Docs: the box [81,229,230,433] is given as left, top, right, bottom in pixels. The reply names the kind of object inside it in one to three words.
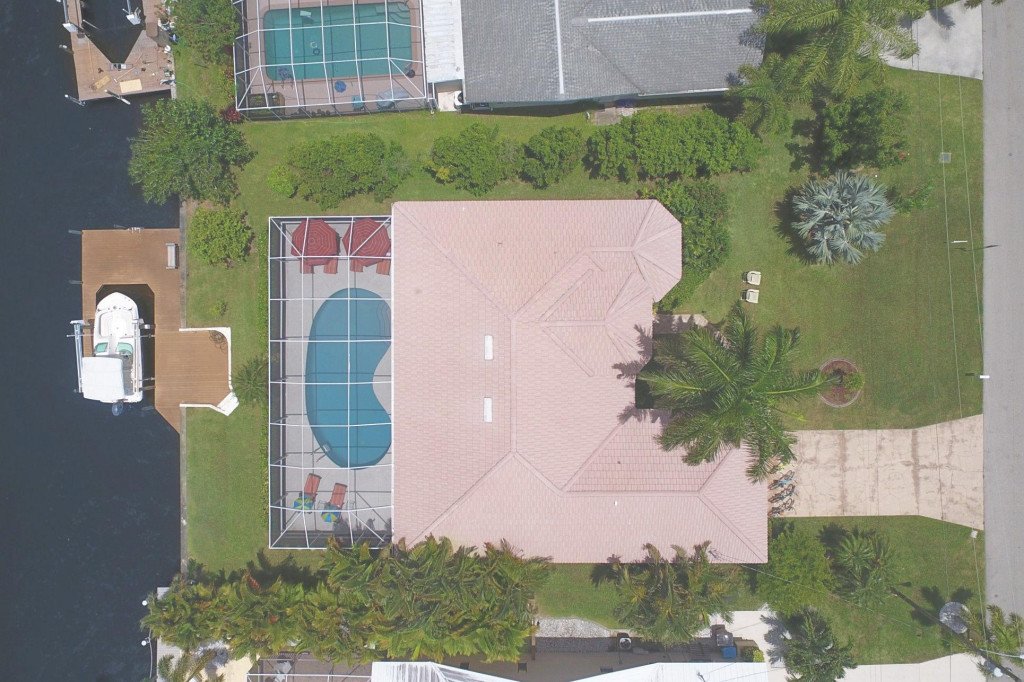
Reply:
pier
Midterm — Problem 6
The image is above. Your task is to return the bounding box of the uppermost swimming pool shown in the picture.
[259,0,415,84]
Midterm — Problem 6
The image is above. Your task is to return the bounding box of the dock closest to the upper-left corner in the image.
[70,0,173,103]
